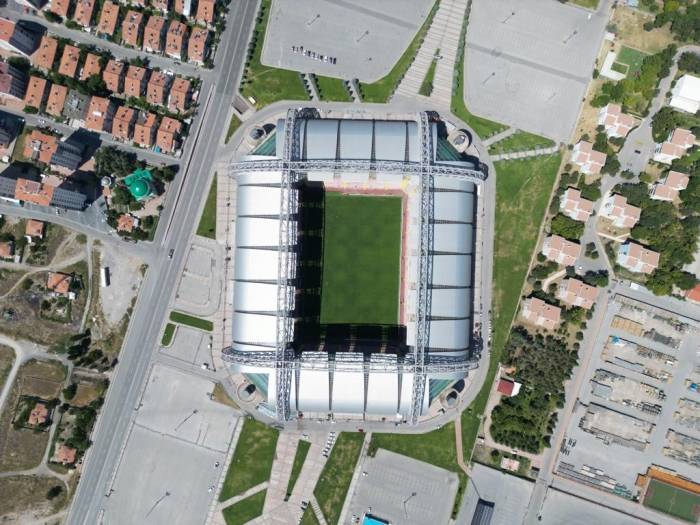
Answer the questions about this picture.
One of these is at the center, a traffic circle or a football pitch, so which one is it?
football pitch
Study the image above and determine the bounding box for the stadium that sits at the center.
[223,110,485,421]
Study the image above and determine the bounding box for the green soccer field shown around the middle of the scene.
[293,183,411,348]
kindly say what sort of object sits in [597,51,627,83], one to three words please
building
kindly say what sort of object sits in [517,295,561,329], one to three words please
house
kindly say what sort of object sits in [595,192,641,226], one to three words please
house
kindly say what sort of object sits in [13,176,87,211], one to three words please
building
